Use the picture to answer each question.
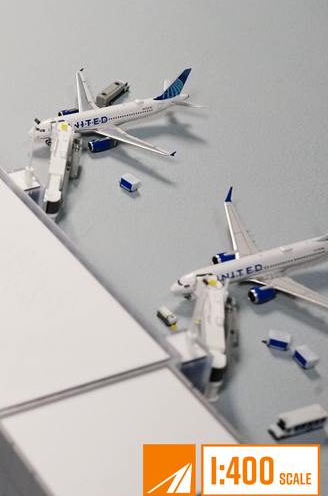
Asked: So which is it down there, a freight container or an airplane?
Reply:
airplane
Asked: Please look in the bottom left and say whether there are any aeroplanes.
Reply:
No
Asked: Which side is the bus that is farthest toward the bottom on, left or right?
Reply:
right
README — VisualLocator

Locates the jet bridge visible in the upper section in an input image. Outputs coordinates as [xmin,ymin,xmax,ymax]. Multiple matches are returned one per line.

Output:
[43,119,82,228]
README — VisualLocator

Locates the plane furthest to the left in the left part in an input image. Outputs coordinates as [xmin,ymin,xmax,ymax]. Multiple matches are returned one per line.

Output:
[27,67,211,156]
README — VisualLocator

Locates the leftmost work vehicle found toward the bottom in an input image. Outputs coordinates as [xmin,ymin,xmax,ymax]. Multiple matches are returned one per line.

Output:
[157,307,178,327]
